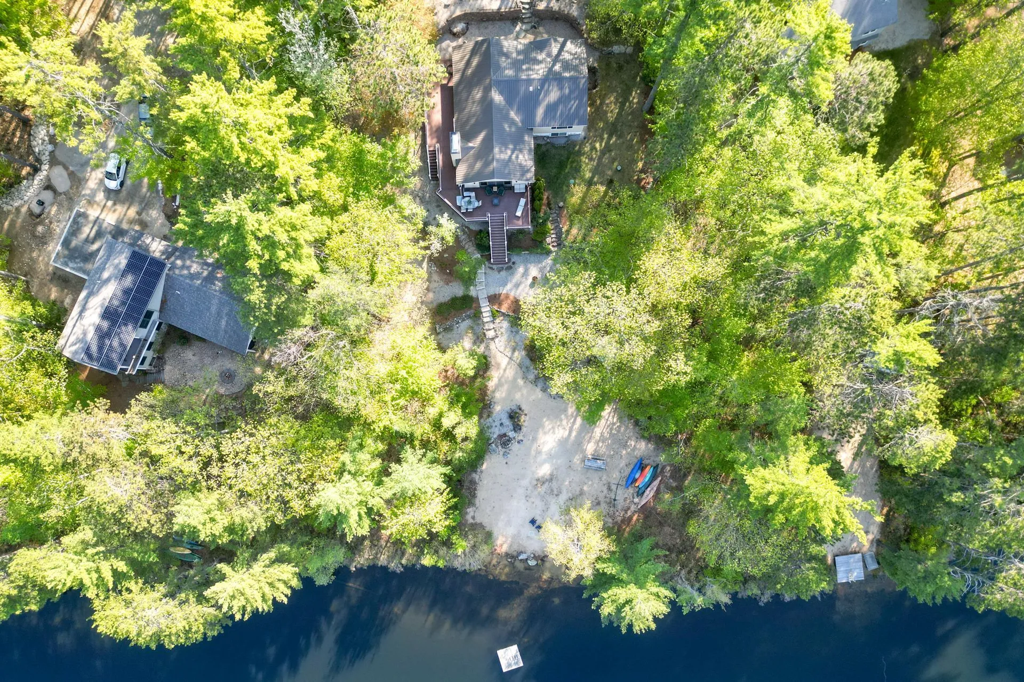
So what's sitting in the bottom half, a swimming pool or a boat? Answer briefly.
boat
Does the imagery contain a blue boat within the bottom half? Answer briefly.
Yes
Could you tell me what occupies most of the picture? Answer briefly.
trees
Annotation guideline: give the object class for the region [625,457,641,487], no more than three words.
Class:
boat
